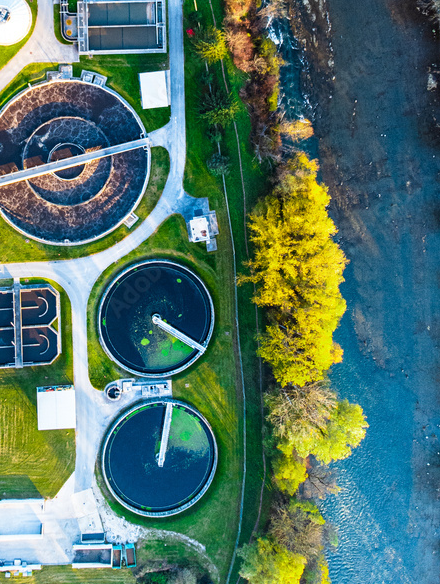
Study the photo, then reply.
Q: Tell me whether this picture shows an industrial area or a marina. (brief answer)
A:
industrial area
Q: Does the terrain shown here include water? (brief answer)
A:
Yes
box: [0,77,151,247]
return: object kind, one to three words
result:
storage tank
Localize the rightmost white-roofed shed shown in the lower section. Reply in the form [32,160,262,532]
[37,385,75,430]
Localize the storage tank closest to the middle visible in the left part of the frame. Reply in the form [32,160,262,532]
[100,260,214,375]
